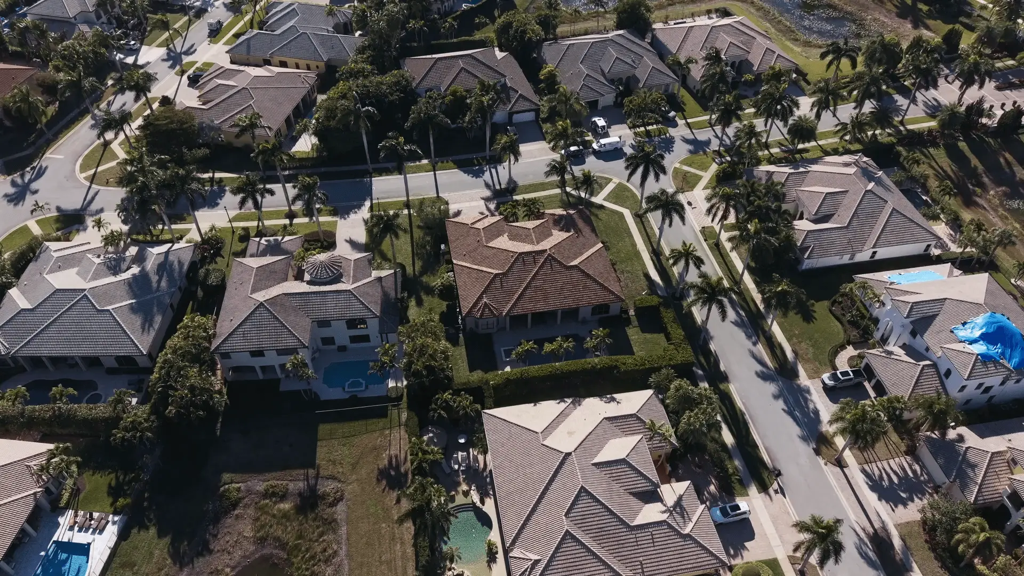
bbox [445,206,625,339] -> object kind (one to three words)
house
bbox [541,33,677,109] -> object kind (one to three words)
house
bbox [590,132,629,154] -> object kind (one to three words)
vehicle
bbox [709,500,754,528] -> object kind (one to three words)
car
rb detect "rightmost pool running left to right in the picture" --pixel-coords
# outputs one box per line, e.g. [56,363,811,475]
[515,332,592,367]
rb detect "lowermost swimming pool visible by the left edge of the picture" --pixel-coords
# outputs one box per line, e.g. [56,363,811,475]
[29,538,93,576]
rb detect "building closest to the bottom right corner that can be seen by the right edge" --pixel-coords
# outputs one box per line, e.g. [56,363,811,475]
[915,416,1024,522]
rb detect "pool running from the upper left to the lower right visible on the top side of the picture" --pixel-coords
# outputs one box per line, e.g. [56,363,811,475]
[899,187,931,210]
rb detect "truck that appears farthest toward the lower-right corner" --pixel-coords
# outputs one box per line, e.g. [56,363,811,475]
[821,367,870,389]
